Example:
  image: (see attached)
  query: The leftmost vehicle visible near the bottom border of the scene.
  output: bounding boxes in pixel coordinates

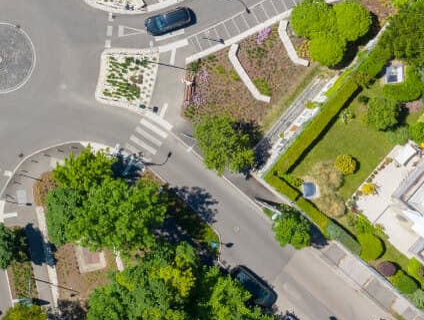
[231,261,276,309]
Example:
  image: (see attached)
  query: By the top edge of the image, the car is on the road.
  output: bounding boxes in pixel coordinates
[143,6,194,36]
